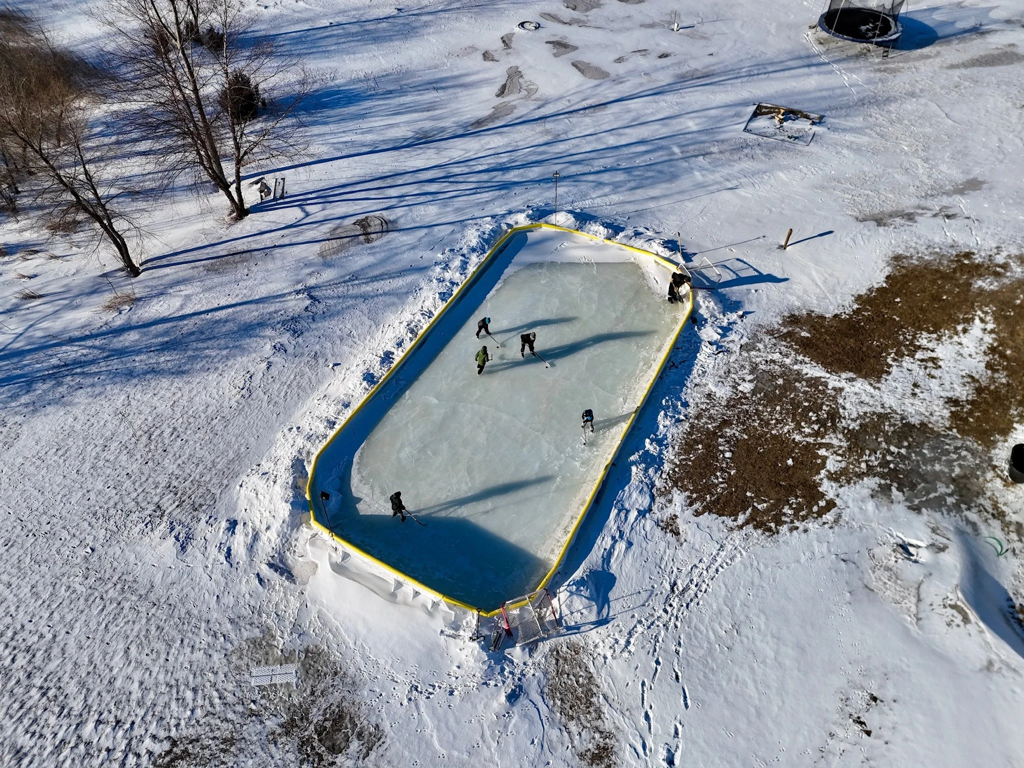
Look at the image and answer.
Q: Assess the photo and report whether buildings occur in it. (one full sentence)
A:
No, there isn't any building down there.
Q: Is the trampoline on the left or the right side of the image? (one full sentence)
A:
It is on the right.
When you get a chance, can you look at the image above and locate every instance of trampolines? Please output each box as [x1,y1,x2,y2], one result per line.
[814,0,910,58]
